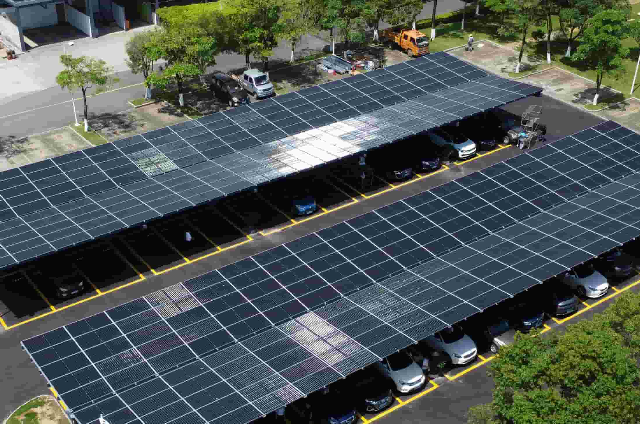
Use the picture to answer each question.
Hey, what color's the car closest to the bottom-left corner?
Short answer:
black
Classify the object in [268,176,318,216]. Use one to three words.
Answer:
car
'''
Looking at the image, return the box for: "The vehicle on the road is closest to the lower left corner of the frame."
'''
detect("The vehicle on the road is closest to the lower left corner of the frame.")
[31,252,84,298]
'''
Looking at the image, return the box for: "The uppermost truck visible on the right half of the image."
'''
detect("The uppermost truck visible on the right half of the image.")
[379,25,431,56]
